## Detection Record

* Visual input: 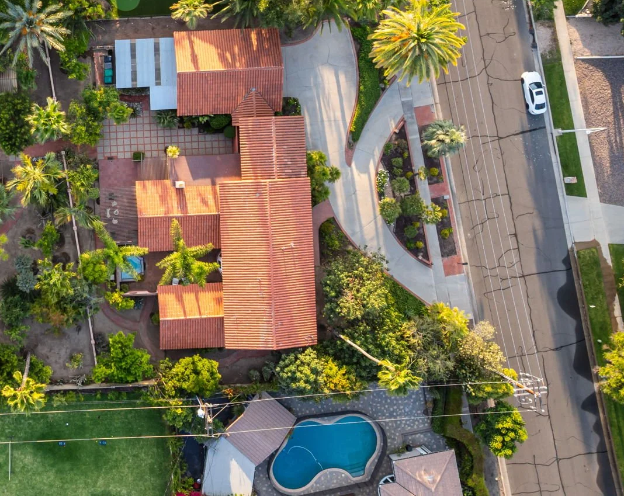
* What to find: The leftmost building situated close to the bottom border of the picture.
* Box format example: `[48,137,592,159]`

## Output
[201,391,296,496]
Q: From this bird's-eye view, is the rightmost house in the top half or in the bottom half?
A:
bottom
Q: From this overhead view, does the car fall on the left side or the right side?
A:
right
